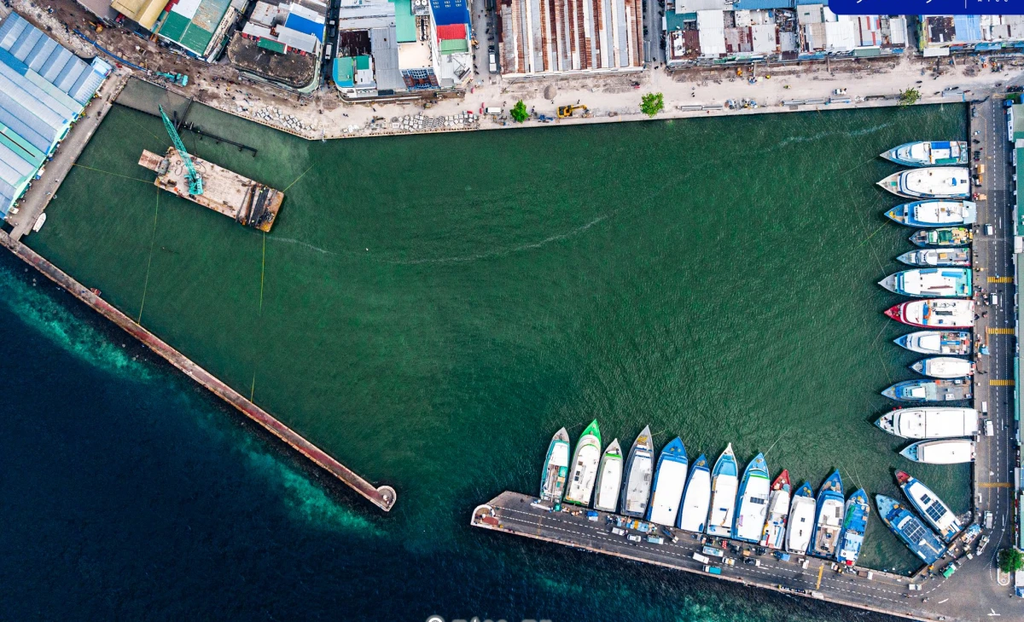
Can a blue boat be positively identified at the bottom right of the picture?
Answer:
Yes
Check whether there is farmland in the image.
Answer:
No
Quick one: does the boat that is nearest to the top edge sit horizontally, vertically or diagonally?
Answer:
horizontally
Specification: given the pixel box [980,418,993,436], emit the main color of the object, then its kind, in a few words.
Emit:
white vehicle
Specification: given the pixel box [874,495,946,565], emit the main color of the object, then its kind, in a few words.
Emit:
blue boat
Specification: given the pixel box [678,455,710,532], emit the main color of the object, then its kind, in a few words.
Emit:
white boat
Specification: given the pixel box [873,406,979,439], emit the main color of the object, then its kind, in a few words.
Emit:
white boat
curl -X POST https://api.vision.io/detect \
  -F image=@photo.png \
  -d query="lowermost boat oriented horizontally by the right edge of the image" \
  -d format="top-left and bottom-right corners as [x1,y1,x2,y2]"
[897,439,976,464]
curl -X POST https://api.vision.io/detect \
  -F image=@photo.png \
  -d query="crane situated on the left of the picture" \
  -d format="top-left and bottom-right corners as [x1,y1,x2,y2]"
[157,104,207,201]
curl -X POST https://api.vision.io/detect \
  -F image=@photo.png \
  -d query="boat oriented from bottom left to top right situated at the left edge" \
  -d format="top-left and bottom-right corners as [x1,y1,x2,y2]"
[32,213,45,232]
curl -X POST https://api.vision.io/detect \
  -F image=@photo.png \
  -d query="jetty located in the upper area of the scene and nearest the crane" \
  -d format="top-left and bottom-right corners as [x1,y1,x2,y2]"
[181,121,258,157]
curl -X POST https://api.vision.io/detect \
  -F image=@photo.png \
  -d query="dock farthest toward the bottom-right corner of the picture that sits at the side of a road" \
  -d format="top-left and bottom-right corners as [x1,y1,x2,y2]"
[471,490,945,622]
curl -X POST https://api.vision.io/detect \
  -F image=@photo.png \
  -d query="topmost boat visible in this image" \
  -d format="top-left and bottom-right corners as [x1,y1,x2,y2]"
[879,141,969,166]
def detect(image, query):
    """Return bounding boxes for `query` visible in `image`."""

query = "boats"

[907,228,973,246]
[892,470,963,543]
[32,213,45,232]
[875,168,971,198]
[892,330,971,354]
[594,439,621,512]
[883,200,977,227]
[648,437,686,526]
[834,488,867,566]
[733,453,768,542]
[678,455,710,532]
[878,267,973,297]
[807,470,843,559]
[564,419,600,508]
[622,425,654,517]
[541,428,569,502]
[897,248,972,267]
[884,299,975,328]
[874,495,946,565]
[760,470,790,549]
[880,379,972,402]
[897,439,976,464]
[873,406,979,439]
[707,443,737,538]
[907,357,975,378]
[879,141,969,166]
[784,482,814,555]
